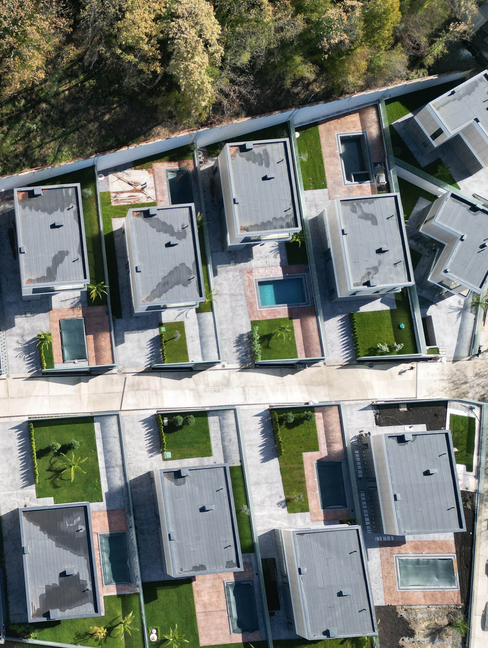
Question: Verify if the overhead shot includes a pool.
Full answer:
Yes, a pool is visible in the scene.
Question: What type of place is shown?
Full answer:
The area seen from above is a residential area.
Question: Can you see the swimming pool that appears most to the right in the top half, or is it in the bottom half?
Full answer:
The swimming pool that appears most to the right is in the bottom half of the image.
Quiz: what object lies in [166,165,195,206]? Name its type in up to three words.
swimming pool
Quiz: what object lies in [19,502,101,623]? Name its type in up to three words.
house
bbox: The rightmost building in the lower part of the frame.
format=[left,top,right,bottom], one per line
[369,430,467,535]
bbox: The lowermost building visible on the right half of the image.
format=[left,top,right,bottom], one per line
[281,524,378,641]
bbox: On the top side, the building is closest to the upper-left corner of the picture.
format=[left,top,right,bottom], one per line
[13,183,90,296]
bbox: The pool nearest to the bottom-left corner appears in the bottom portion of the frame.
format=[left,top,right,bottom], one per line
[99,532,133,587]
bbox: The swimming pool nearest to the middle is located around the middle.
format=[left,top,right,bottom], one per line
[253,273,313,308]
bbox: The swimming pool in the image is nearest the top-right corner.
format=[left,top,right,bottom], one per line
[335,131,375,187]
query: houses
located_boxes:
[155,463,243,577]
[323,193,415,298]
[414,190,488,299]
[125,204,206,314]
[369,430,467,535]
[411,70,488,169]
[13,183,90,296]
[19,502,101,623]
[281,524,378,641]
[218,138,302,246]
